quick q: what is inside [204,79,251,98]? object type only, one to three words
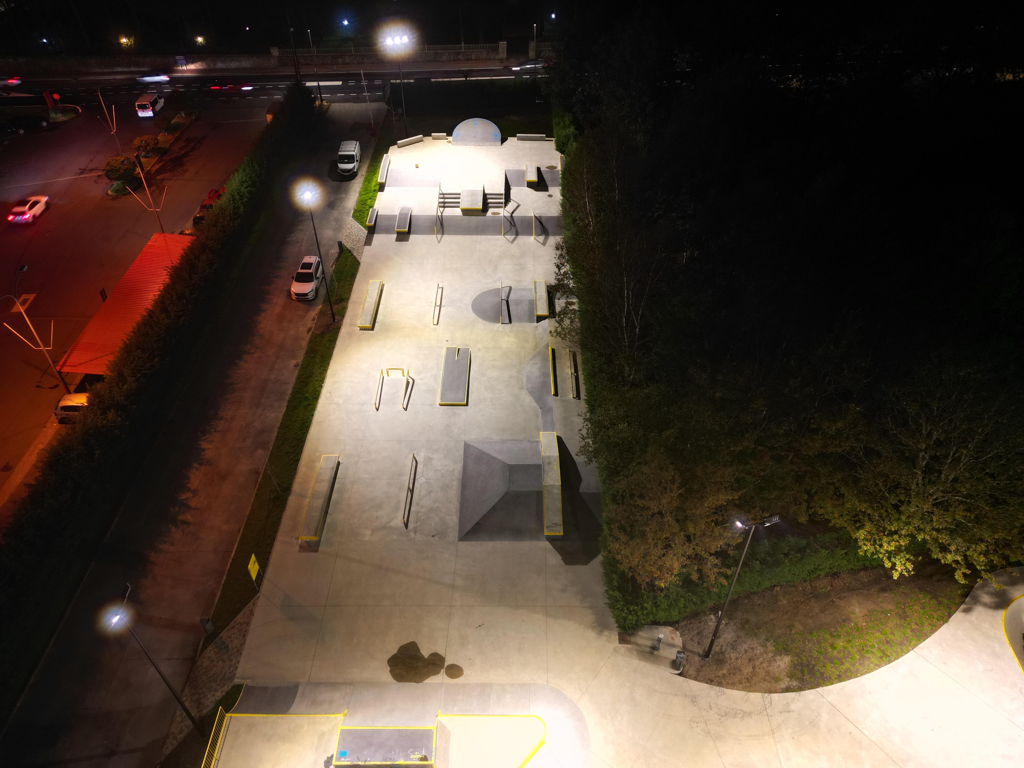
car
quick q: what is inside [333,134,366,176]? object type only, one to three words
van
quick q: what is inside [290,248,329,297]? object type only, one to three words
car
